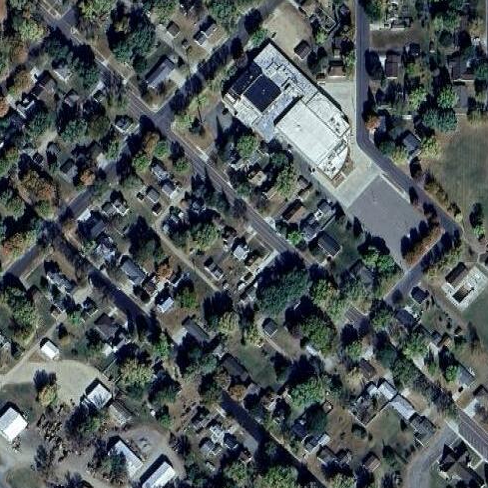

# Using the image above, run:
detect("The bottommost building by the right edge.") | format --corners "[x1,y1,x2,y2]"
[438,446,483,486]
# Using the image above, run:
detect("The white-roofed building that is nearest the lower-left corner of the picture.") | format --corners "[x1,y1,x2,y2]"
[0,409,27,443]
